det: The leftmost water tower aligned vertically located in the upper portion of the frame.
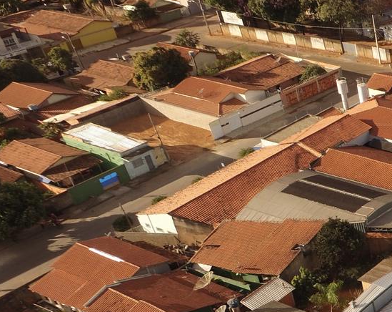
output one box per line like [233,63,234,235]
[333,66,348,106]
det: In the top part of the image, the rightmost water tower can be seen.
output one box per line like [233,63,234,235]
[355,69,372,104]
